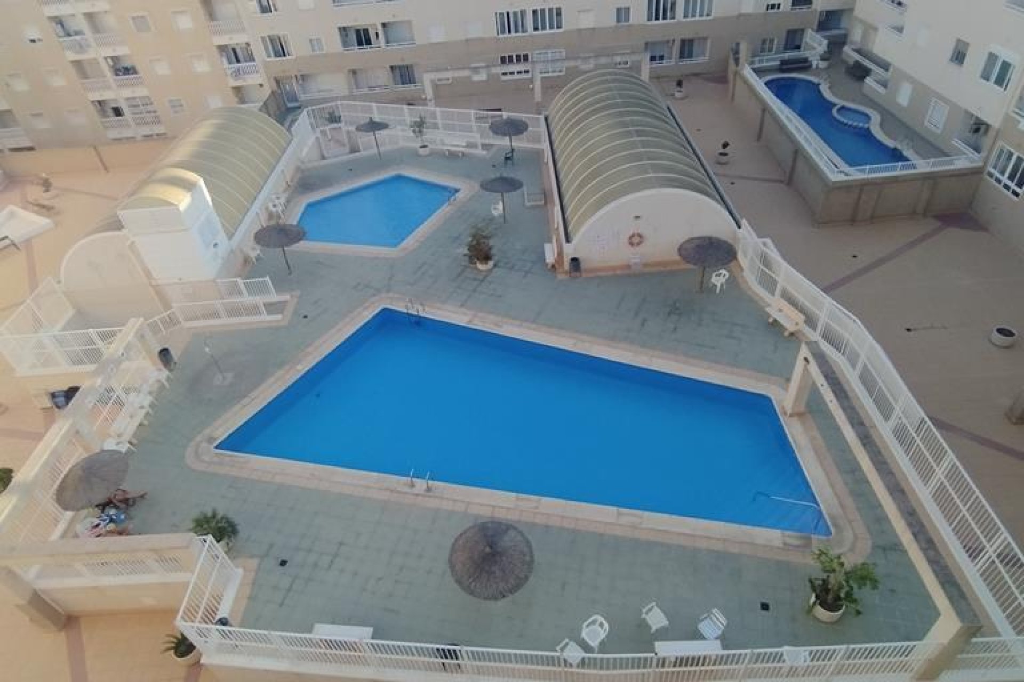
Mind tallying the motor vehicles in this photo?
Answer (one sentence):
There are no motor vehicles in this view.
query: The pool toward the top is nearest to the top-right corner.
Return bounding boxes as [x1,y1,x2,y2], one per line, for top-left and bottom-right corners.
[768,75,909,166]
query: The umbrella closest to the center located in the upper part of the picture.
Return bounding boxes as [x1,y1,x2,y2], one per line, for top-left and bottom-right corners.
[479,173,524,226]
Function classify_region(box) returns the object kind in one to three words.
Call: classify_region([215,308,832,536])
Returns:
swimming pool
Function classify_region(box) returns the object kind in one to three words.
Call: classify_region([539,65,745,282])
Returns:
building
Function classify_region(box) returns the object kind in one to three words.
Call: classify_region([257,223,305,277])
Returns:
umbrella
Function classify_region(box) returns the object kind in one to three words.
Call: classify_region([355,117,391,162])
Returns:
umbrella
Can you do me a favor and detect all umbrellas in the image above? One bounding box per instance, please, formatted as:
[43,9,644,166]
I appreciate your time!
[479,173,524,226]
[257,223,305,277]
[677,235,737,298]
[490,118,528,165]
[448,525,535,611]
[355,117,391,162]
[54,454,137,529]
